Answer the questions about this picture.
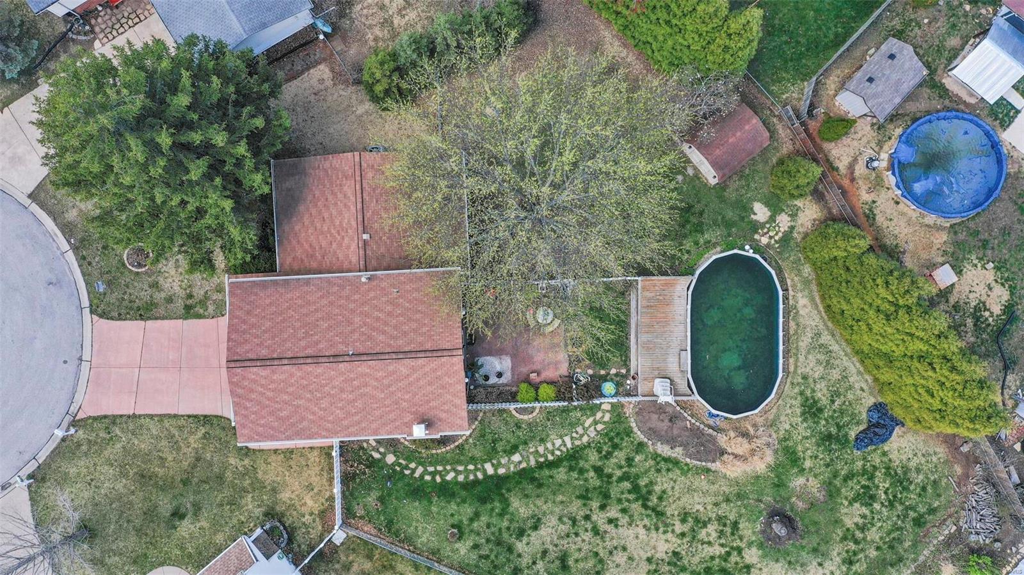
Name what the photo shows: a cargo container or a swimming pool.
swimming pool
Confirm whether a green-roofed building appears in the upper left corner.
No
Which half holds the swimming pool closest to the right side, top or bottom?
top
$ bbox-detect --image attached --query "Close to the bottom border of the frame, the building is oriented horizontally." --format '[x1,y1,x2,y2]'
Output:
[194,527,303,575]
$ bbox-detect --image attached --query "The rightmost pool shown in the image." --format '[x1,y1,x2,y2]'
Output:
[881,107,1007,223]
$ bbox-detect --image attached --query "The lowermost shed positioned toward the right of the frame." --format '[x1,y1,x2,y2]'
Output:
[684,102,775,185]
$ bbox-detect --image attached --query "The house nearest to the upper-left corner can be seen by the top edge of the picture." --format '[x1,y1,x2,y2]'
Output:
[151,0,316,73]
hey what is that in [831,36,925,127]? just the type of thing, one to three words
shed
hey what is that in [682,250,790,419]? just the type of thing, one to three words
swimming pool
